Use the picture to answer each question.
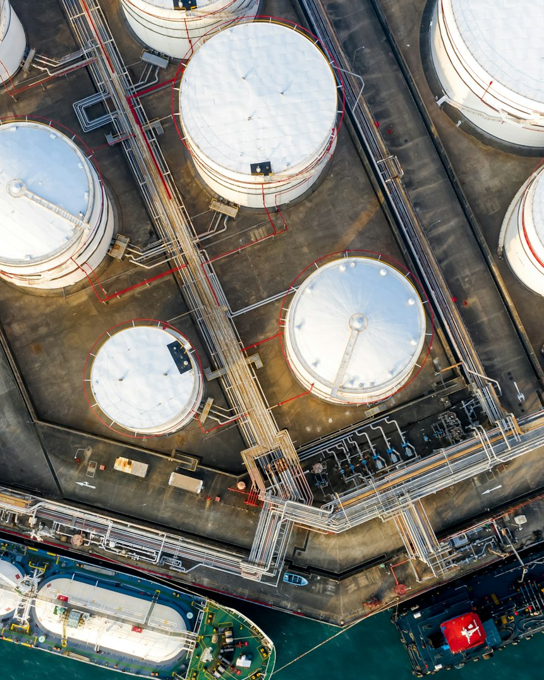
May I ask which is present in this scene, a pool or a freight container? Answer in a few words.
freight container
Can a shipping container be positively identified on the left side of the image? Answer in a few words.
Yes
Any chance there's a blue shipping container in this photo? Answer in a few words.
No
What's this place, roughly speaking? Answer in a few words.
industrial area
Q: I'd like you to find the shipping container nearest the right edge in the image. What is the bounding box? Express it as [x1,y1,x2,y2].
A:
[168,469,206,495]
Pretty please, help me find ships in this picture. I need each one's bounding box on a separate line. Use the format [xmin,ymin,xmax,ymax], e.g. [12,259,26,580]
[0,537,277,680]
[393,550,544,674]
